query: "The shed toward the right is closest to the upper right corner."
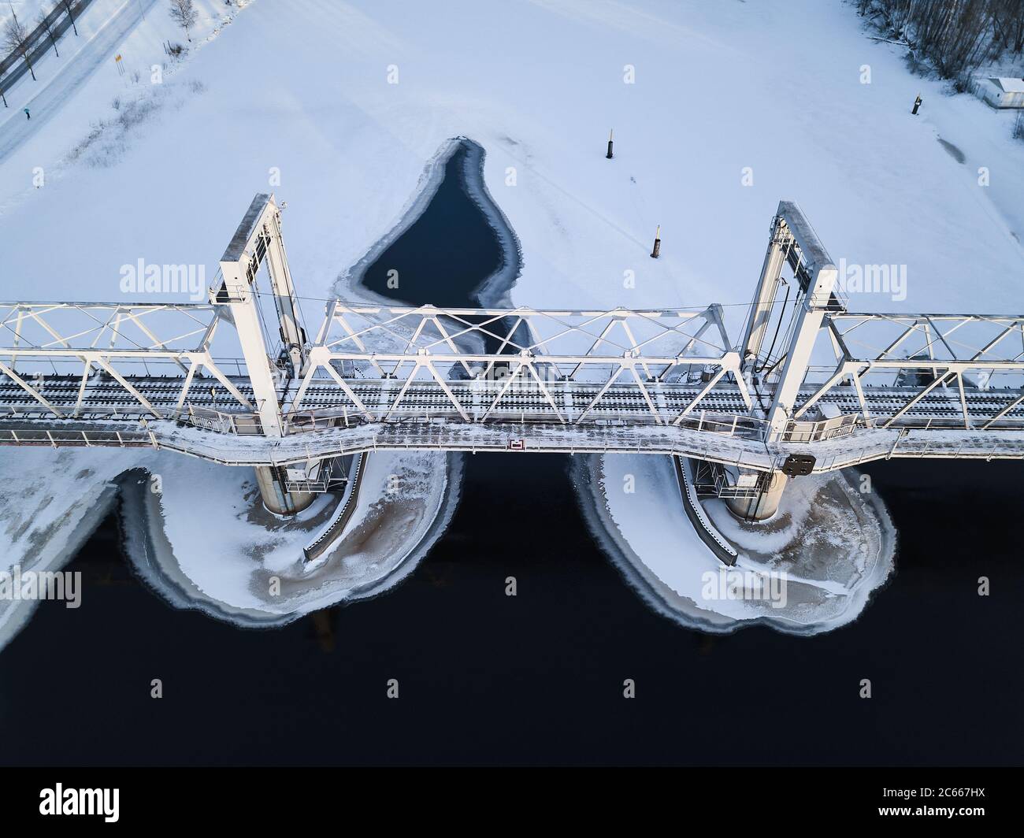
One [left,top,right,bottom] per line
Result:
[957,75,1024,109]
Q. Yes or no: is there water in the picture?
Yes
